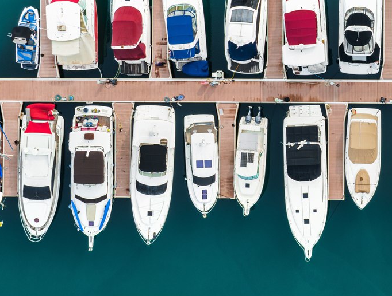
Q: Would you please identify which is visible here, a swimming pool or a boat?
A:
boat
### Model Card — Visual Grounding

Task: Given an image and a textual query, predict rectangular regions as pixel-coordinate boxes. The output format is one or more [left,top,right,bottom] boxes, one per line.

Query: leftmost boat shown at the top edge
[8,5,41,70]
